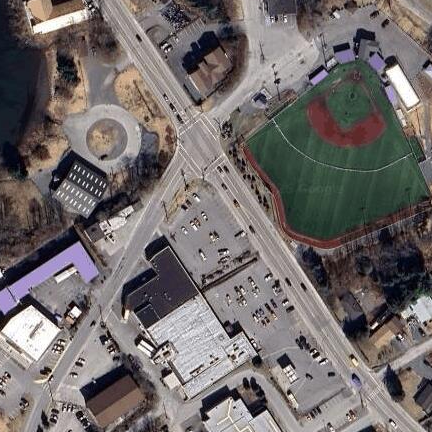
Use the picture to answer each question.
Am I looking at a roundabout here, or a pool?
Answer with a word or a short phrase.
roundabout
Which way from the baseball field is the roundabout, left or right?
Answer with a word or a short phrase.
on the left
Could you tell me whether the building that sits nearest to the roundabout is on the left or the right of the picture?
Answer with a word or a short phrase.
left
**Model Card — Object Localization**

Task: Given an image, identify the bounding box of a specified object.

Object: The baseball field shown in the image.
[242,60,432,249]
